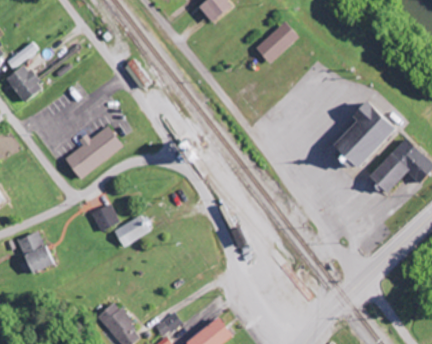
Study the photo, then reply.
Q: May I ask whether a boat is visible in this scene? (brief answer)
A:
No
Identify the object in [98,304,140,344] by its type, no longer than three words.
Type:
house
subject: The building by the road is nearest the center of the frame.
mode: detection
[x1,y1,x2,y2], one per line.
[178,138,210,178]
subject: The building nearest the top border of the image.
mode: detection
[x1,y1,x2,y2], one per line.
[200,0,234,24]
